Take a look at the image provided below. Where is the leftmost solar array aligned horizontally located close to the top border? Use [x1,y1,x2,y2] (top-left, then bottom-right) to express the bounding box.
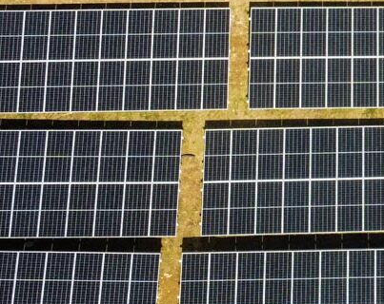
[0,9,231,112]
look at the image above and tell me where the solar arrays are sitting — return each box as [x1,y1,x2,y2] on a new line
[179,249,384,304]
[0,252,162,304]
[200,126,384,236]
[0,9,231,112]
[247,6,384,108]
[0,130,184,237]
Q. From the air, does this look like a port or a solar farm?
solar farm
